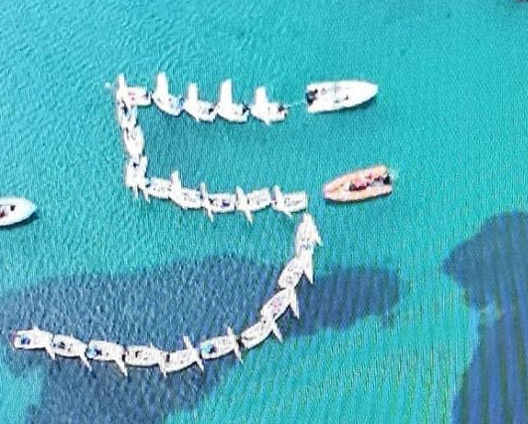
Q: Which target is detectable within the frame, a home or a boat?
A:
boat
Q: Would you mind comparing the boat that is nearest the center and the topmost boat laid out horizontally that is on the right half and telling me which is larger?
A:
the topmost boat laid out horizontally that is on the right half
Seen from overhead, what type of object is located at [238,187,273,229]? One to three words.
boat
